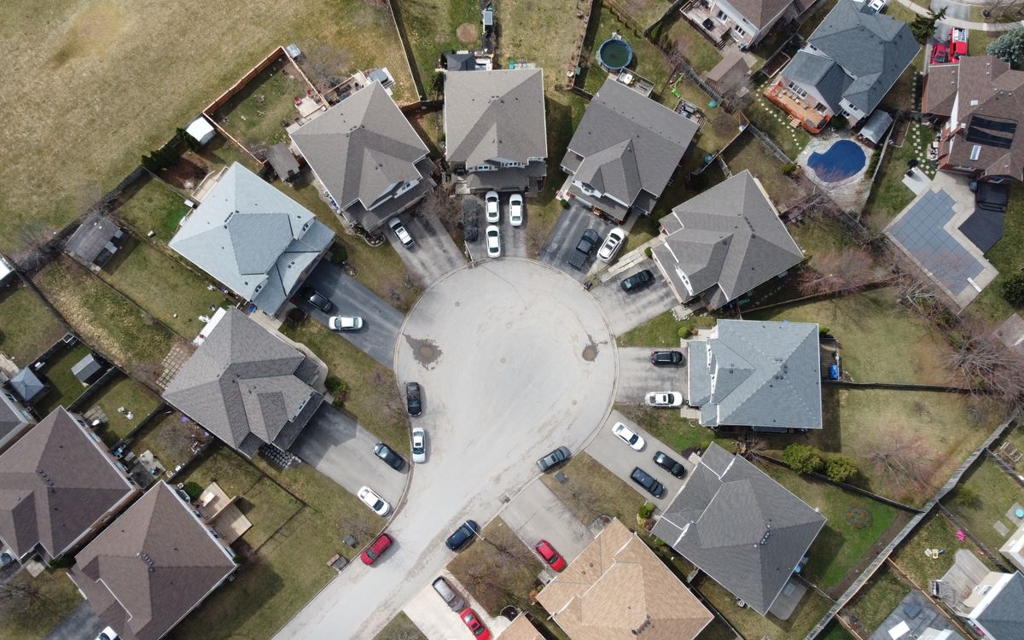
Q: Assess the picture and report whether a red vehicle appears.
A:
Yes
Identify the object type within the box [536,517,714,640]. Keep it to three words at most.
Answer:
house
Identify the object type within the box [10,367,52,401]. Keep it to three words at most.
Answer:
gazebo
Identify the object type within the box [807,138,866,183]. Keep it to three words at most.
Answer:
swimming pool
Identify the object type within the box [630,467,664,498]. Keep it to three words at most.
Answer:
car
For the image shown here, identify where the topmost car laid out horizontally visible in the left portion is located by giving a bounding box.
[329,316,363,331]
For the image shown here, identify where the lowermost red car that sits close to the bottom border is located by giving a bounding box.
[460,608,491,640]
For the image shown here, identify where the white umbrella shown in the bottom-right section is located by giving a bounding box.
[886,617,907,638]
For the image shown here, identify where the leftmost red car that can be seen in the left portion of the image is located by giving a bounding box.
[360,532,394,565]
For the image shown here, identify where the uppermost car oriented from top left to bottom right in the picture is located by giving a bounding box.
[388,218,416,249]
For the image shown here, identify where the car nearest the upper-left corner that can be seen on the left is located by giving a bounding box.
[301,287,334,313]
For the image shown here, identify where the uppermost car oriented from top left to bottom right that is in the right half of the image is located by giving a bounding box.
[612,421,644,451]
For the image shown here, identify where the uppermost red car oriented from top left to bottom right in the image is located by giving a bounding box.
[535,539,565,573]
